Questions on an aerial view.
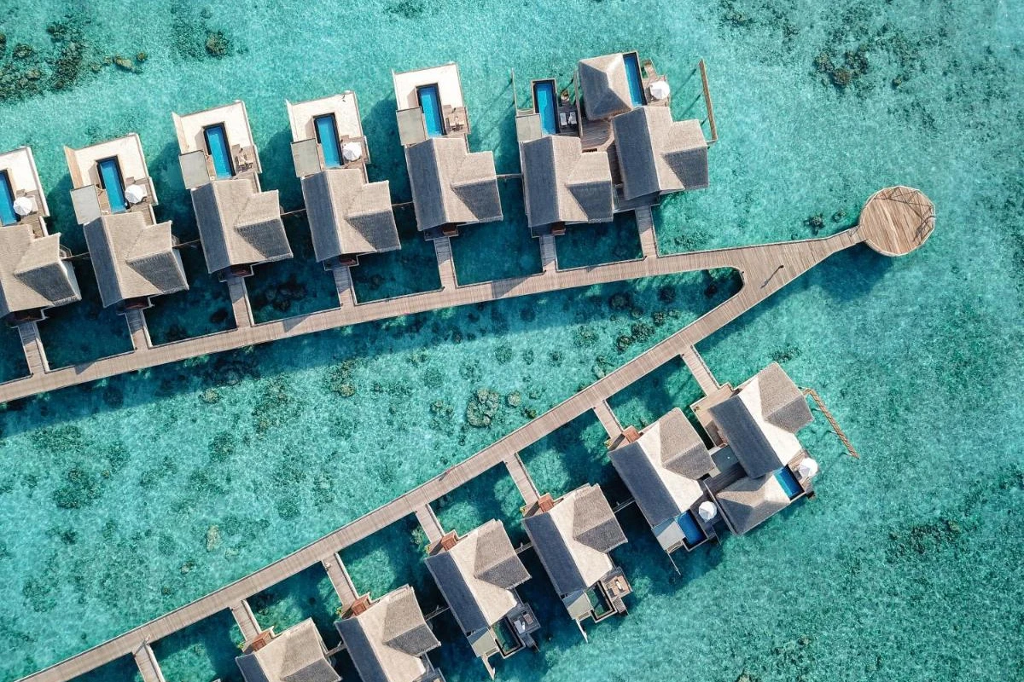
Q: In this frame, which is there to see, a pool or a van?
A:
pool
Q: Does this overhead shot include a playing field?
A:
No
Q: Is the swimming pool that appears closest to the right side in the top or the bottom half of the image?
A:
bottom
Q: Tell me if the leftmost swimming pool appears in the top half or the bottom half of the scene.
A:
top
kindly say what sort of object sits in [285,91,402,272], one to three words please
house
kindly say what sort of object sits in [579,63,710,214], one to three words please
house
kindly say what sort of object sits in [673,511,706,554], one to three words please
swimming pool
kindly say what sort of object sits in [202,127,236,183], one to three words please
swimming pool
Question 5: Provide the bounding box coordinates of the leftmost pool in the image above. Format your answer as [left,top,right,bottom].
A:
[0,170,22,226]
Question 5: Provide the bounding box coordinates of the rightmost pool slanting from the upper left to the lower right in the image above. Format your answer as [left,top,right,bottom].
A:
[775,465,806,503]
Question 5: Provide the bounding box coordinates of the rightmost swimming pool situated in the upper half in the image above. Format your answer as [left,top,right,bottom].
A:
[627,51,648,107]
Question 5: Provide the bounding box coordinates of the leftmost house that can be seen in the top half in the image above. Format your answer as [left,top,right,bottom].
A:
[0,146,91,329]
